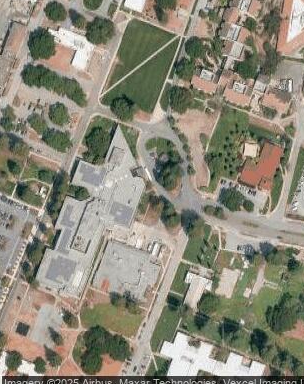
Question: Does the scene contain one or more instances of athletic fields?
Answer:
Yes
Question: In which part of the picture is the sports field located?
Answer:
top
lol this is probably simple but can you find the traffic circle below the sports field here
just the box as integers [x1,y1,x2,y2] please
[147,135,186,194]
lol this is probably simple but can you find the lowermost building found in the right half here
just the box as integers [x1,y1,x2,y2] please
[161,332,266,384]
